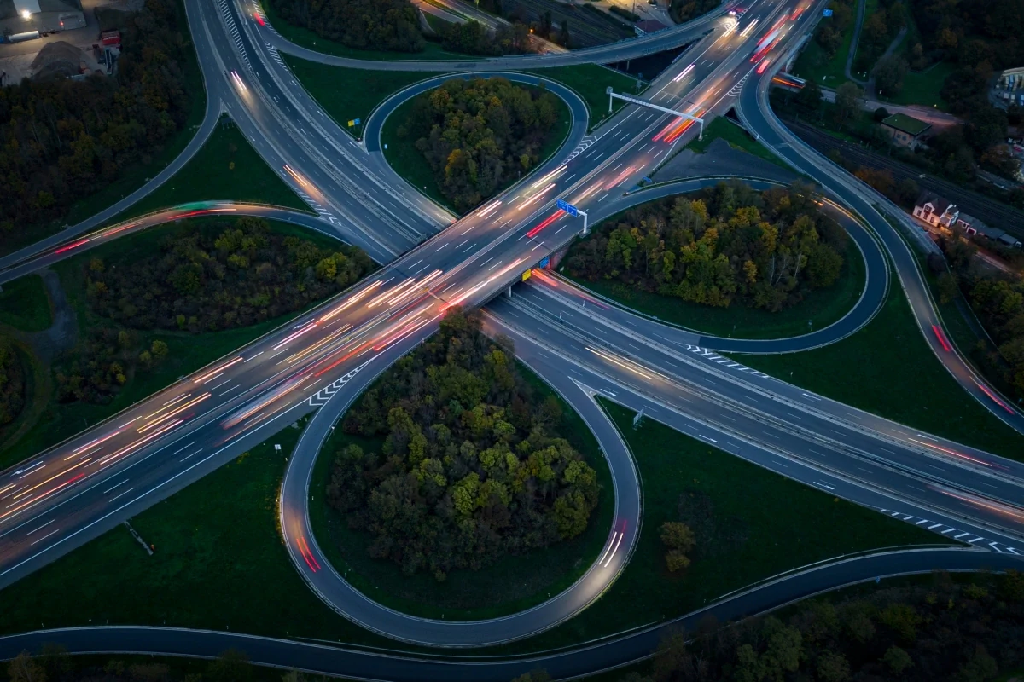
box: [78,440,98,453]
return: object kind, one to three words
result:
vehicle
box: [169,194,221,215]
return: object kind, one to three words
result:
truck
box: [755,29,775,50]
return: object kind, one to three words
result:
vehicle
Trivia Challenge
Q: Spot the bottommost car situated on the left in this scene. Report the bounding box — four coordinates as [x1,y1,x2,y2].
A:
[299,543,314,562]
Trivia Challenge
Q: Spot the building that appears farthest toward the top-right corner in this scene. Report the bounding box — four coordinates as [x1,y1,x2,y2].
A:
[883,123,930,156]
